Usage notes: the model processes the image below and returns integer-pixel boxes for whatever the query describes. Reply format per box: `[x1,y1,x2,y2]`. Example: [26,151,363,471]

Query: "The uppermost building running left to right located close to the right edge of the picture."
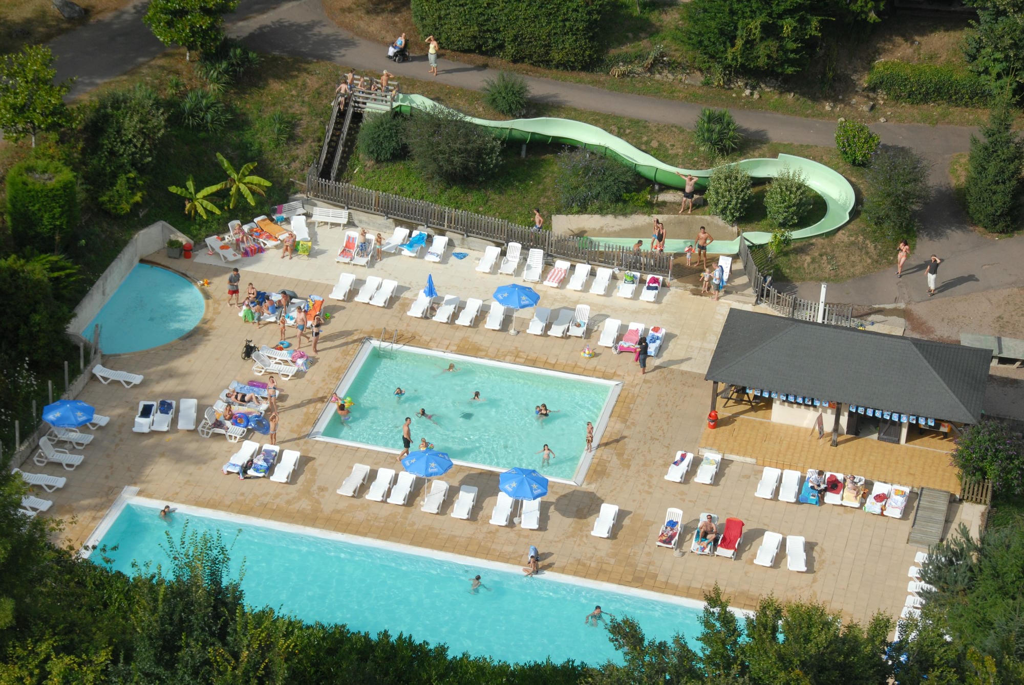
[703,306,994,467]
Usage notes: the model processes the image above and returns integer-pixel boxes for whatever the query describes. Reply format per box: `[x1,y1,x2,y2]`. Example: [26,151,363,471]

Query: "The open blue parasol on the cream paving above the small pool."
[493,288,539,335]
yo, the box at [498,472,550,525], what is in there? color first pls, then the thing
blue umbrella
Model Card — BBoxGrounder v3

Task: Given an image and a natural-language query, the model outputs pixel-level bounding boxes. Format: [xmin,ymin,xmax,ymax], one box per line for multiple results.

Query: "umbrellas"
[41,400,96,451]
[420,271,439,318]
[399,450,454,508]
[498,472,550,525]
[493,288,539,335]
